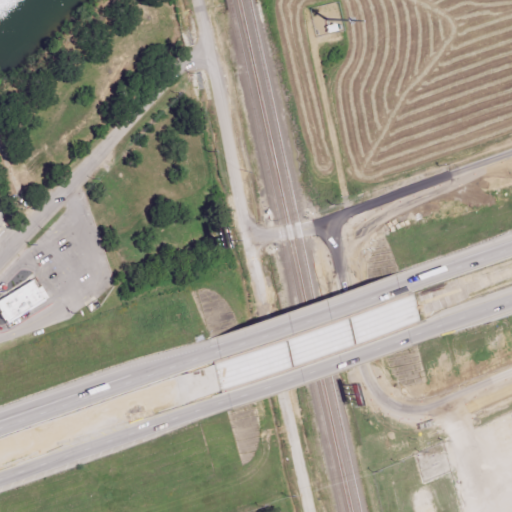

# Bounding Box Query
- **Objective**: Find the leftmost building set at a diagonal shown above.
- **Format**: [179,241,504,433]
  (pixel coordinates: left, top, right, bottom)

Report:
[0,279,49,326]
